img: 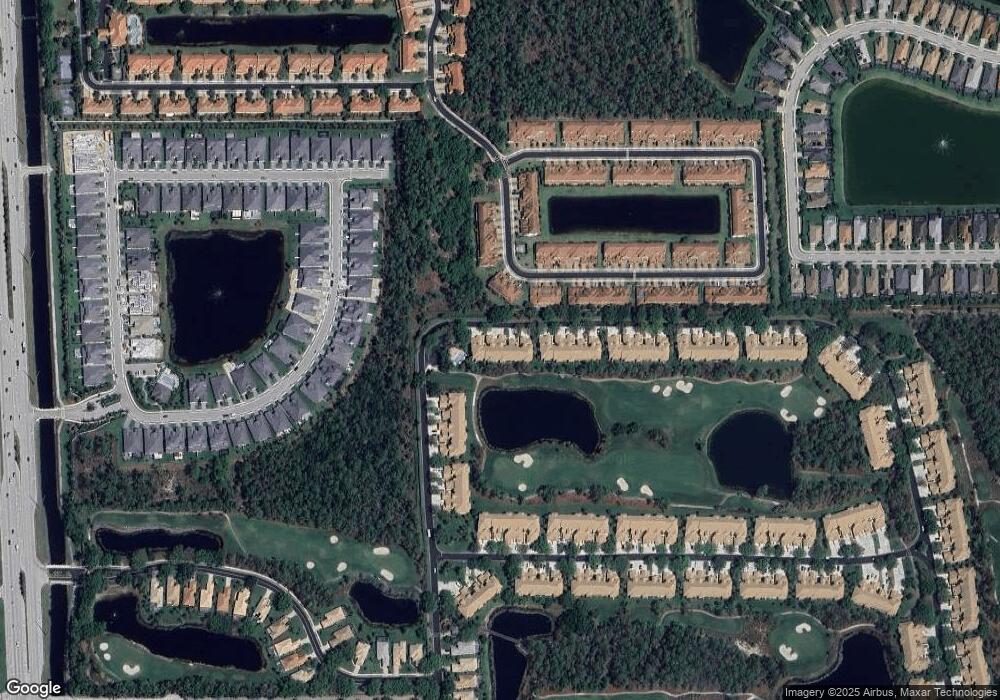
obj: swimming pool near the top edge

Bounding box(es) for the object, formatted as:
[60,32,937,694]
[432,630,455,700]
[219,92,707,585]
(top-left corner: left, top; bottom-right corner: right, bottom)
[127,14,142,45]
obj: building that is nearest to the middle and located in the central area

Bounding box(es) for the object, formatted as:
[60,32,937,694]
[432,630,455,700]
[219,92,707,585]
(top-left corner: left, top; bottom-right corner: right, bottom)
[471,336,532,363]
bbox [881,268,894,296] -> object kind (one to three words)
house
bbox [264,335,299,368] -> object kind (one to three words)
house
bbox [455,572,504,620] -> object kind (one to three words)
building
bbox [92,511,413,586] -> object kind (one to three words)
golf course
